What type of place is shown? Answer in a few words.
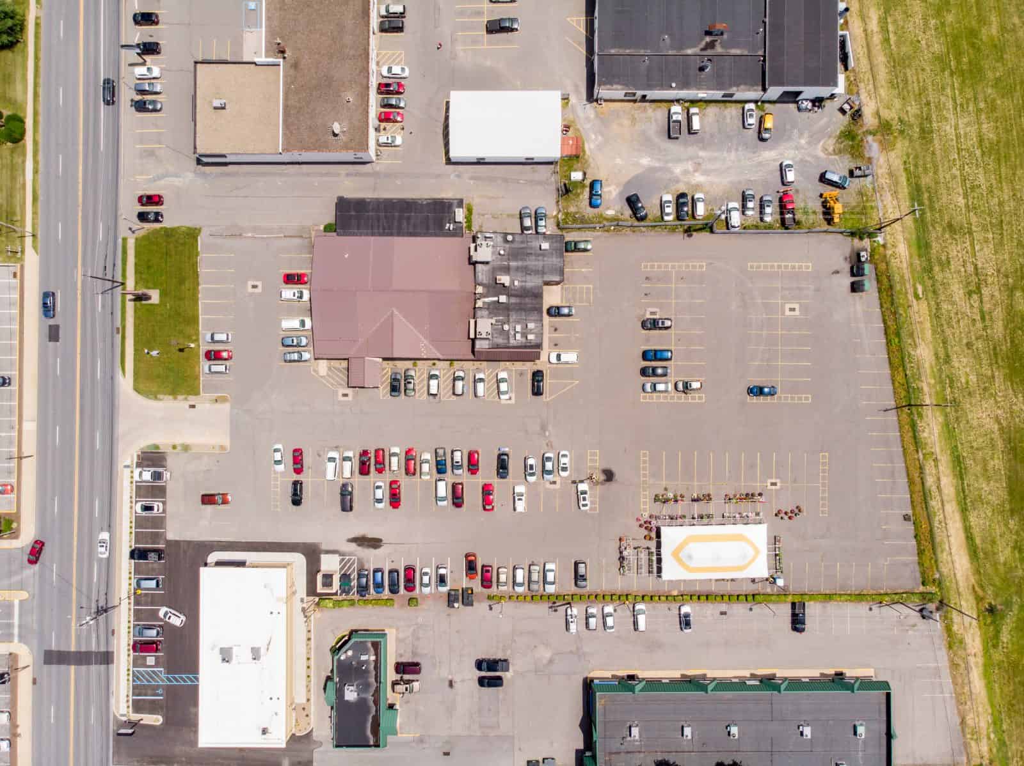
parking lot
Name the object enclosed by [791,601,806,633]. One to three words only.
vehicle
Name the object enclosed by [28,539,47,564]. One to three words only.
car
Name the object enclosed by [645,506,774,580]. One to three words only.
tent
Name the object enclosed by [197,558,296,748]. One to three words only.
building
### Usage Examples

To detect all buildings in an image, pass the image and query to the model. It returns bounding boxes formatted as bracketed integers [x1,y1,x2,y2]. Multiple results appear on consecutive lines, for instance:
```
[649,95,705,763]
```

[450,91,561,162]
[193,0,379,165]
[325,631,398,747]
[589,679,893,766]
[593,0,855,102]
[308,197,564,388]
[197,558,296,748]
